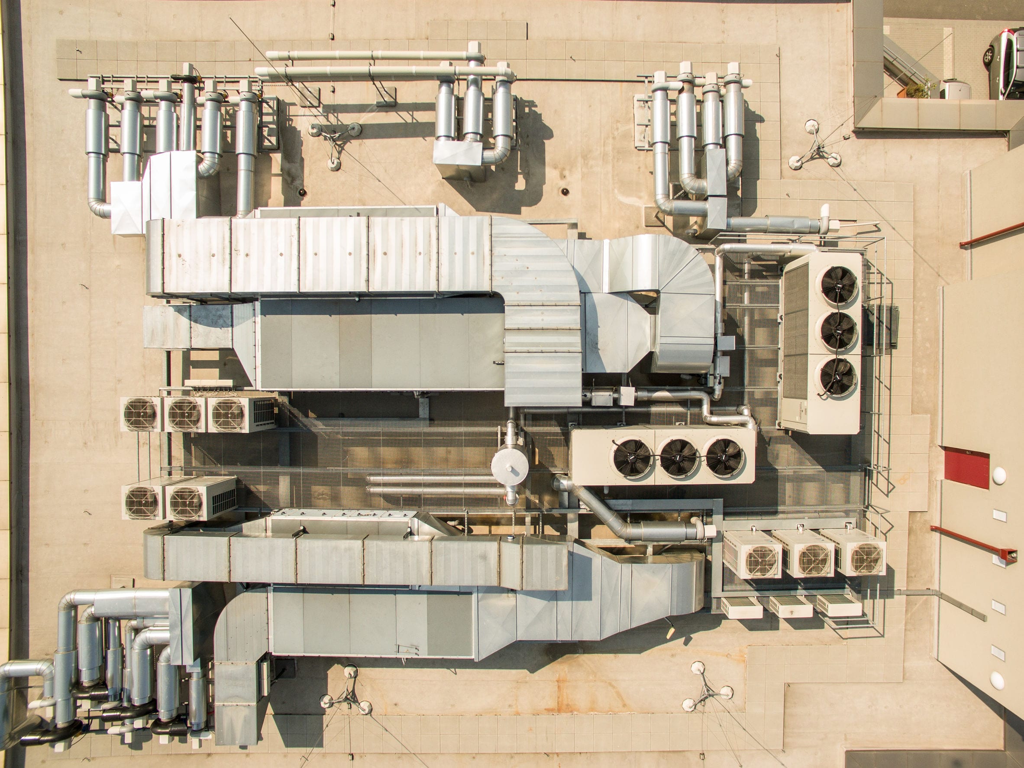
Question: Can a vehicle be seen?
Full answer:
Yes, looking at the shot, I can spot a vehicle.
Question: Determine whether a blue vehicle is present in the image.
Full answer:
No, no blue vehicle can be seen from above.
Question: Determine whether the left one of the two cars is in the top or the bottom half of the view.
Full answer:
You can find the left one of the two cars in the top half.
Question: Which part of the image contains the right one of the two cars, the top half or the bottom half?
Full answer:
It is in the top half that the right one of the two cars appears.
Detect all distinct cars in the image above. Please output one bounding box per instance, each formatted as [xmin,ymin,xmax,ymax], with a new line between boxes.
[978,25,1024,102]
[940,76,977,101]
